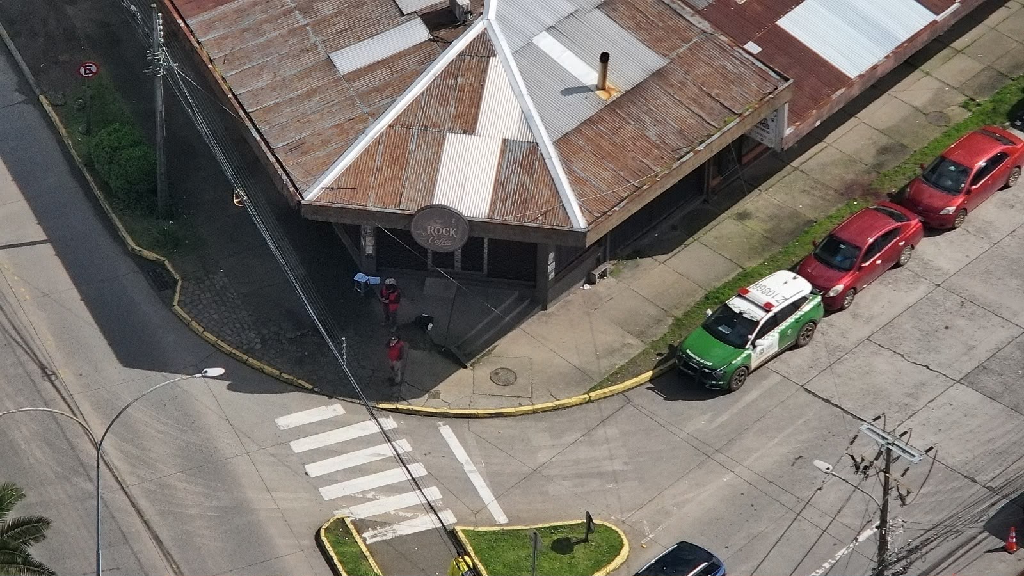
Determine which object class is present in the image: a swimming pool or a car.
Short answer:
car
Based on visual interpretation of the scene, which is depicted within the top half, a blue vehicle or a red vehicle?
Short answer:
red vehicle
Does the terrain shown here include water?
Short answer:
No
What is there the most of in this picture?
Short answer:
paved ground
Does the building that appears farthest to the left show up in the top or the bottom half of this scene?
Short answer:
top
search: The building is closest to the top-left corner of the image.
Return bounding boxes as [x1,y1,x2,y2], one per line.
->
[154,0,793,310]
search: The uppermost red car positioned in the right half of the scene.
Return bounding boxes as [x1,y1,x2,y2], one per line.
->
[901,126,1024,231]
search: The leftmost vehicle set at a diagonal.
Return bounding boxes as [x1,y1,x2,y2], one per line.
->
[673,275,825,394]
